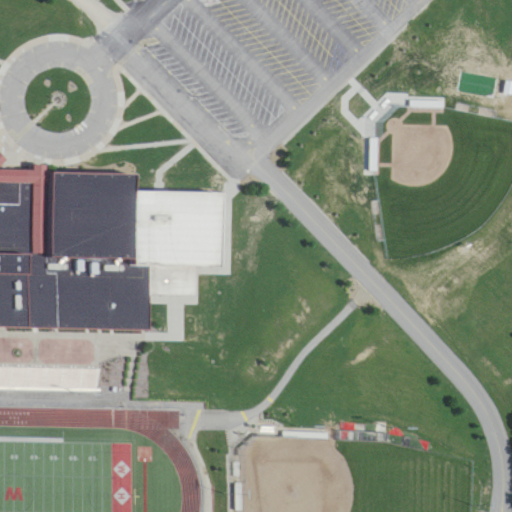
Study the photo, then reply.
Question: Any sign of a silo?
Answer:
No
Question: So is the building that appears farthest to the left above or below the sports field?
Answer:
above it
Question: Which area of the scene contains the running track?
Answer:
bottom left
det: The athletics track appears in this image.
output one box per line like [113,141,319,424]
[0,409,201,512]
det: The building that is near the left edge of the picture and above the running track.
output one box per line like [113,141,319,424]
[0,165,151,329]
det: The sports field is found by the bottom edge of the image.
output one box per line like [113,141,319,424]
[0,428,182,512]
